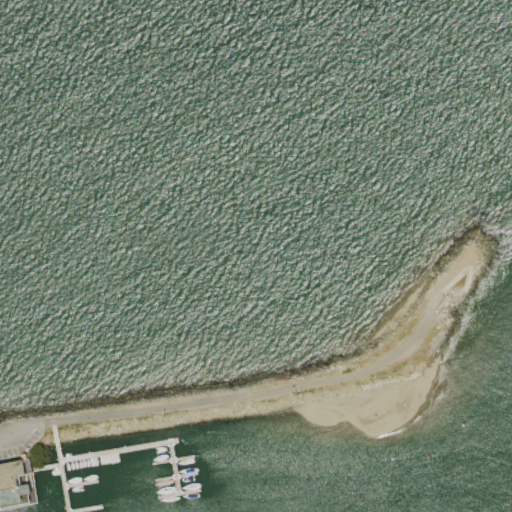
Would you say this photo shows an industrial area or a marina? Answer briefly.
marina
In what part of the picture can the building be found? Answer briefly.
bottom left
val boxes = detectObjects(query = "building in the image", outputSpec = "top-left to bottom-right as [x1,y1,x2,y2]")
[0,451,37,511]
